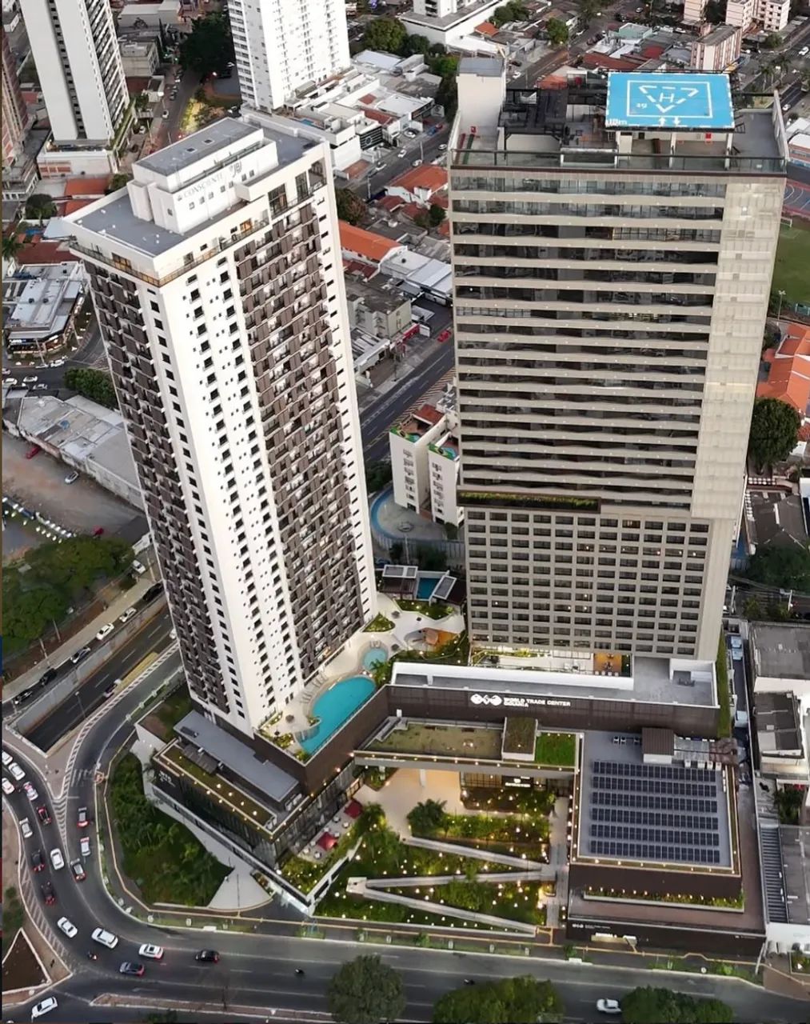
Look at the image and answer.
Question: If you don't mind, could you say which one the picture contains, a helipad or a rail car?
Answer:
helipad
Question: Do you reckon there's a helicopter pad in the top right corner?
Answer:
Yes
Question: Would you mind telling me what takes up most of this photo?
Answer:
buildings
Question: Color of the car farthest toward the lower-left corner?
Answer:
white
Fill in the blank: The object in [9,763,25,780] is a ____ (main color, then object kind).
white car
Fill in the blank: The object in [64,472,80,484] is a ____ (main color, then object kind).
gray vehicle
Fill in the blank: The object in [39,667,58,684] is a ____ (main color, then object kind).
black car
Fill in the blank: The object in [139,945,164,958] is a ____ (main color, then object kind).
white vehicle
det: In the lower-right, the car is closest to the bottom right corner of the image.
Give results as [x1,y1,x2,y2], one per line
[794,940,806,957]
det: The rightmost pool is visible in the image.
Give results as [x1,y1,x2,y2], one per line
[415,576,442,602]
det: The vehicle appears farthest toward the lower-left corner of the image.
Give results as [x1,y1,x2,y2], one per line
[32,995,58,1017]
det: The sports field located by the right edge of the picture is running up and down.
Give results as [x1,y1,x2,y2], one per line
[768,213,810,310]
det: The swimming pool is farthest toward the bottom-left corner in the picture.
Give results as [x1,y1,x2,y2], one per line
[297,674,377,756]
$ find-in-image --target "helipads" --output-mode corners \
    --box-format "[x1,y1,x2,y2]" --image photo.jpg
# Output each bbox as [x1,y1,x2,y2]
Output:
[603,74,736,130]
